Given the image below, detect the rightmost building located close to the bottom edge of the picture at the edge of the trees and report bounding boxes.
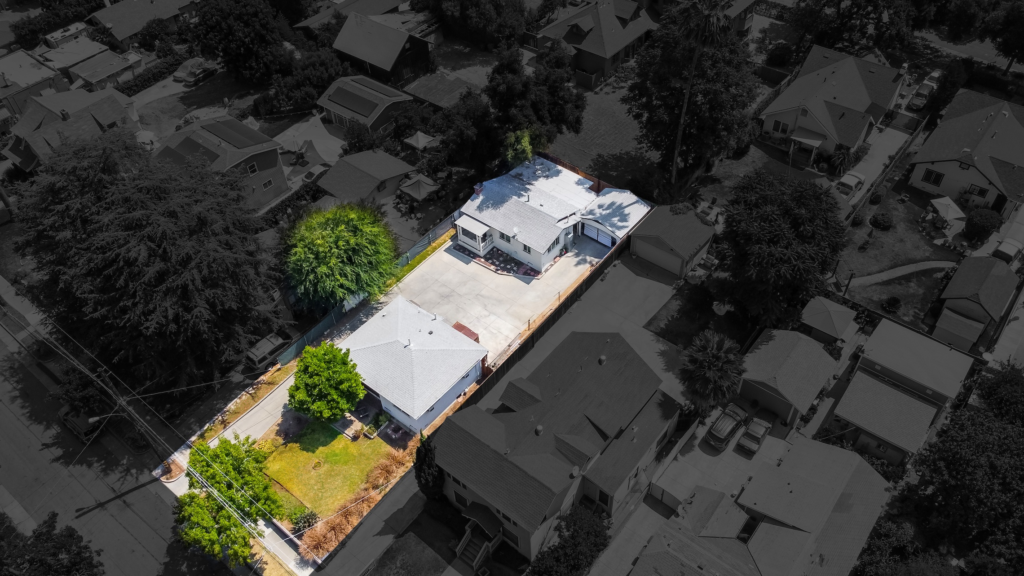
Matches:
[623,423,890,576]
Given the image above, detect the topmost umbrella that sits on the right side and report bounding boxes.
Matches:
[930,198,965,221]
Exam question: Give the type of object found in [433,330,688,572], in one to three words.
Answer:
house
